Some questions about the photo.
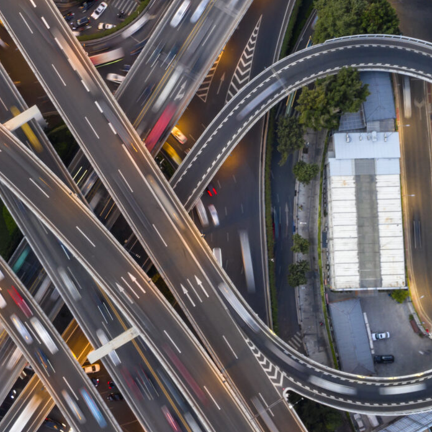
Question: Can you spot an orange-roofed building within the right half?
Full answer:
No, no orange-roofed building can be made out within the right half.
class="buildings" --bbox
[357,71,395,122]
[323,160,409,290]
[324,299,374,374]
